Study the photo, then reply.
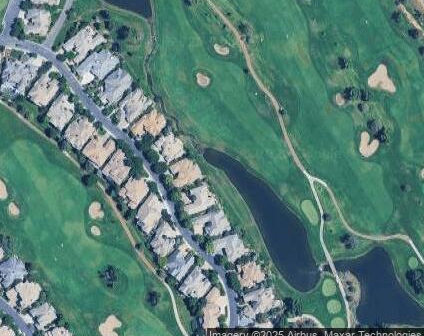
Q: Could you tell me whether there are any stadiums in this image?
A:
No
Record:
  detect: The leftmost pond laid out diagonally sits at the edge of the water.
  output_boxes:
[203,147,321,290]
